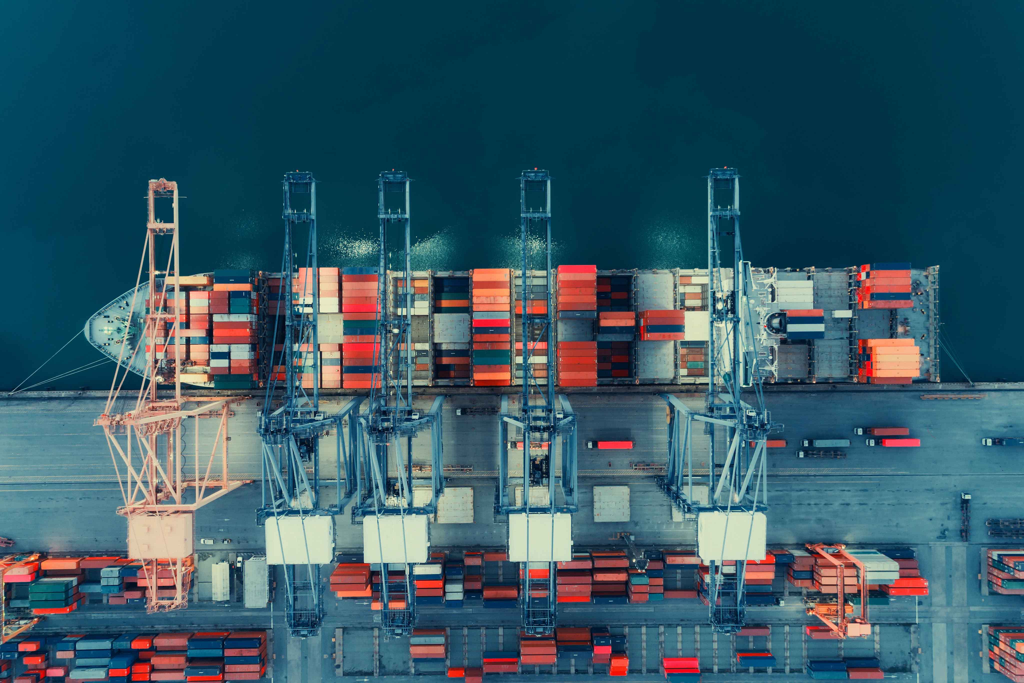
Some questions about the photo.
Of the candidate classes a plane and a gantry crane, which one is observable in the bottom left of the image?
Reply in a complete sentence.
You can see a gantry crane in the bottom left of the image.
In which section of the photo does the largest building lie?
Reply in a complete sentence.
Look in the bottom left portion of the view to spot the largest building.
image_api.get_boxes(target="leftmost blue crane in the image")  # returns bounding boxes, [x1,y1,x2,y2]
[255,168,373,638]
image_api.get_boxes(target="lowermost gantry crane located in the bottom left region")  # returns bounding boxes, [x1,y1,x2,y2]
[0,551,48,643]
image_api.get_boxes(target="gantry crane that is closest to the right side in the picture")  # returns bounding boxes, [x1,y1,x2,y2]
[809,544,874,637]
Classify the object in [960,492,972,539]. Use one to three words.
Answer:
vehicle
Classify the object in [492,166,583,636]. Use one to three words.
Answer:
container crane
